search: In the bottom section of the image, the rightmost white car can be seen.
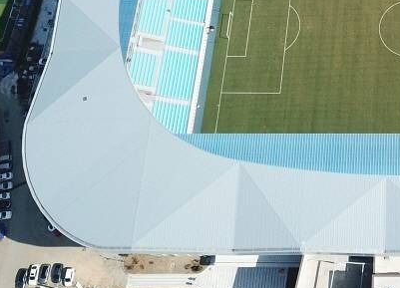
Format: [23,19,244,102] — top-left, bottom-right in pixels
[61,266,73,287]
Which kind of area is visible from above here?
sports ground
